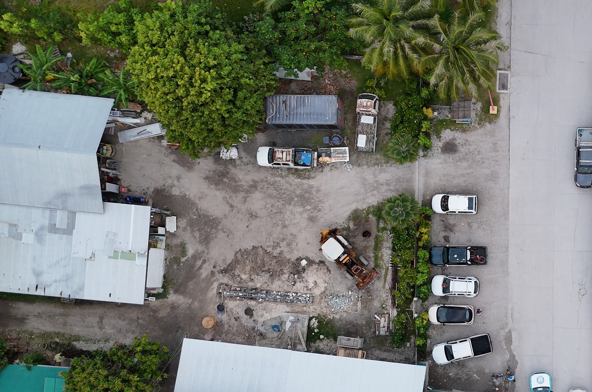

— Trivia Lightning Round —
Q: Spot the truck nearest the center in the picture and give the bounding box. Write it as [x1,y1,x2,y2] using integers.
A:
[260,144,325,169]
